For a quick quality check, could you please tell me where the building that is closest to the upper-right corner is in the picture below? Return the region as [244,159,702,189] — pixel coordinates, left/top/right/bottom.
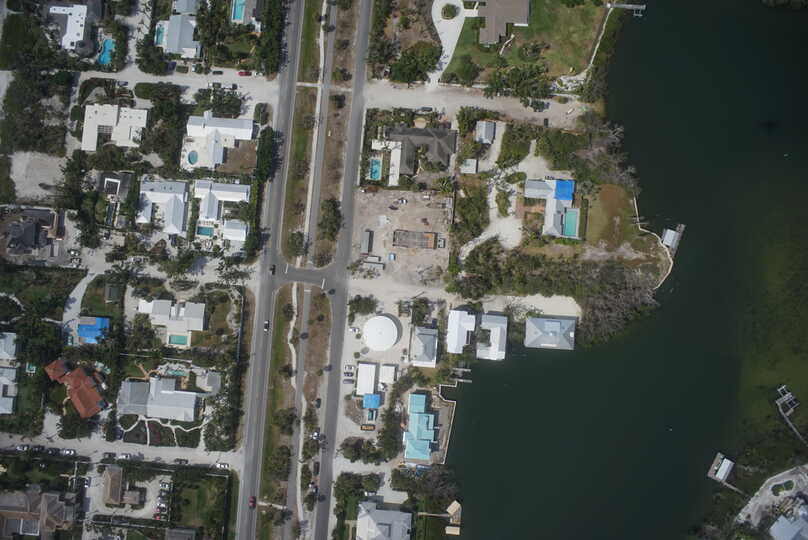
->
[661,223,686,257]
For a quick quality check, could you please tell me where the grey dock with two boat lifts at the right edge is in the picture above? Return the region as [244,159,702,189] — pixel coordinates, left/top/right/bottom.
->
[775,384,808,447]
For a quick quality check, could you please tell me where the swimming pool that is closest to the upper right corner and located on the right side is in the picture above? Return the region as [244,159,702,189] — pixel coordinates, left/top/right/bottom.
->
[564,210,578,237]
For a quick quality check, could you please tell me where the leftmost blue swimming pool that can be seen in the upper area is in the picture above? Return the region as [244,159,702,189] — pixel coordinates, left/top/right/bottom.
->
[98,38,116,65]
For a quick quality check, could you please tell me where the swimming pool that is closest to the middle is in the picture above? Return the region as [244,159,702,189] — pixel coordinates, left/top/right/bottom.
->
[369,158,383,180]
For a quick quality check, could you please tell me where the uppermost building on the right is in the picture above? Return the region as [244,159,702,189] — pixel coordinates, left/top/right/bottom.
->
[478,0,530,47]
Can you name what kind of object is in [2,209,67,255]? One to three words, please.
house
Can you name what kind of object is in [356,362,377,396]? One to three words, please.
building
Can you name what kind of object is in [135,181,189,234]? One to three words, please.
house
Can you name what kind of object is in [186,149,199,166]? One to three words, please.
swimming pool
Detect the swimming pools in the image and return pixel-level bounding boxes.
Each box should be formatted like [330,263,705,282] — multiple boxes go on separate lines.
[98,38,116,65]
[166,369,191,377]
[186,149,199,166]
[155,24,165,46]
[369,158,383,180]
[564,210,578,237]
[232,0,245,21]
[368,410,375,422]
[167,334,189,346]
[105,202,115,226]
[196,226,214,237]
